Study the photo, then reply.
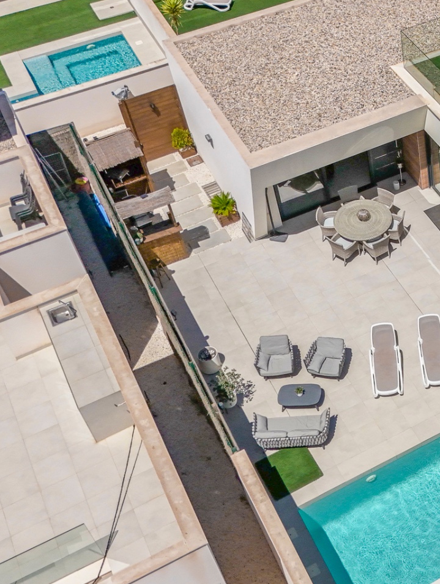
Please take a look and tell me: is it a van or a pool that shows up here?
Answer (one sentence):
The image shows a pool.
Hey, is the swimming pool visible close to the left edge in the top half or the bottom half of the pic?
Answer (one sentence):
The swimming pool visible close to the left edge sits in the top half of the picture.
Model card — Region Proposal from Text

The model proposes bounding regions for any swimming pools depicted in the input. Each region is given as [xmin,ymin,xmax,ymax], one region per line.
[12,34,139,102]
[299,436,440,584]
